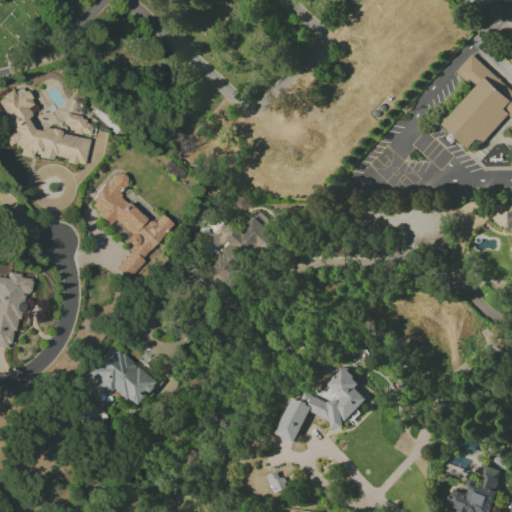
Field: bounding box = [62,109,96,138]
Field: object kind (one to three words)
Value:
building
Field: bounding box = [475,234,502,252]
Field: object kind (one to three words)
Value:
swimming pool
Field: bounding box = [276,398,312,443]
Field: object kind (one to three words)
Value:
barn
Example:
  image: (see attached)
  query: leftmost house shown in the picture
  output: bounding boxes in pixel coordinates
[0,272,34,346]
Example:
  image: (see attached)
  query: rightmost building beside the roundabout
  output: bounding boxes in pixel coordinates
[93,171,174,274]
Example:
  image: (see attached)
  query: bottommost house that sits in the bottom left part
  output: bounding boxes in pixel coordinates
[92,352,157,407]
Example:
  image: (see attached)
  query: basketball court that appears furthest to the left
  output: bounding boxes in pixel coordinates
[371,145,422,194]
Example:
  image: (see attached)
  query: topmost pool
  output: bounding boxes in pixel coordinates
[47,87,66,108]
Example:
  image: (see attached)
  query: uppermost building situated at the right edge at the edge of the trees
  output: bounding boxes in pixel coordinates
[442,52,512,152]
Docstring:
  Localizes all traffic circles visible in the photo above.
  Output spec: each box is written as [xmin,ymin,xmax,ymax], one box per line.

[32,164,78,210]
